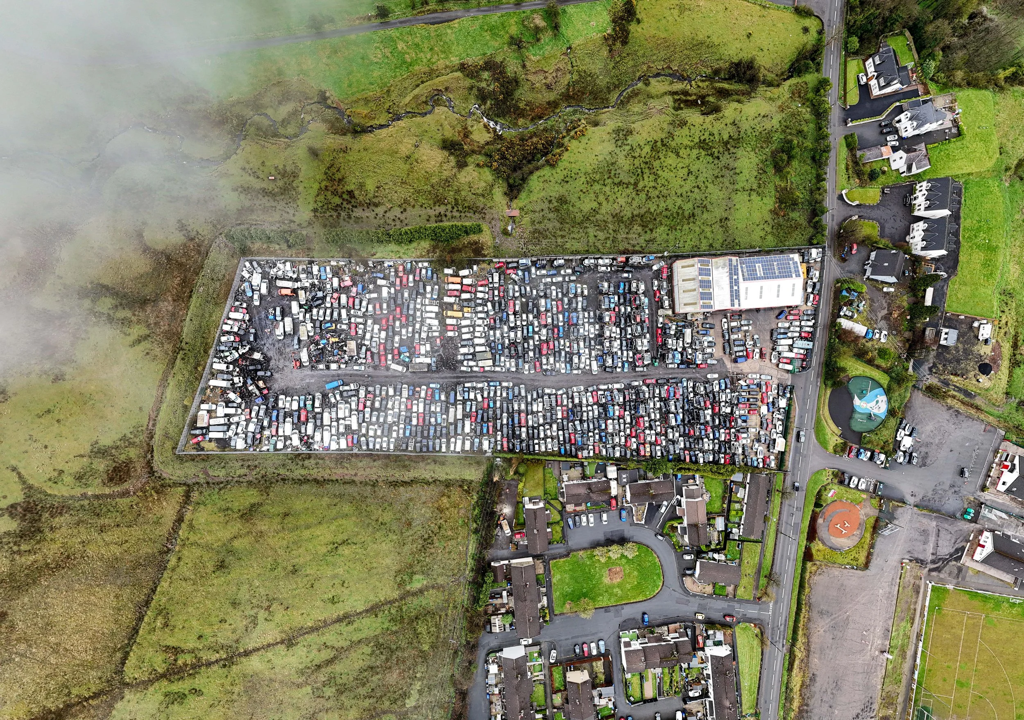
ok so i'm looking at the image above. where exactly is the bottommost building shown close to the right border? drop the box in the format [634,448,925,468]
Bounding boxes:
[968,528,1024,577]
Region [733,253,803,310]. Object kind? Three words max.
building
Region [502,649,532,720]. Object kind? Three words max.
house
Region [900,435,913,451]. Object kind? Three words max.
vehicle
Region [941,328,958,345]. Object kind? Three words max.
camper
